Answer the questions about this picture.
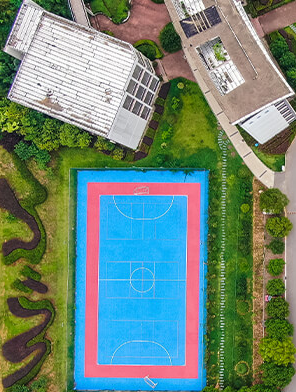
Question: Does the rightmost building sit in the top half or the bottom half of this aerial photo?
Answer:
top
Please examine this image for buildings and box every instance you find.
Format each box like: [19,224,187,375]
[170,0,296,144]
[5,0,159,147]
